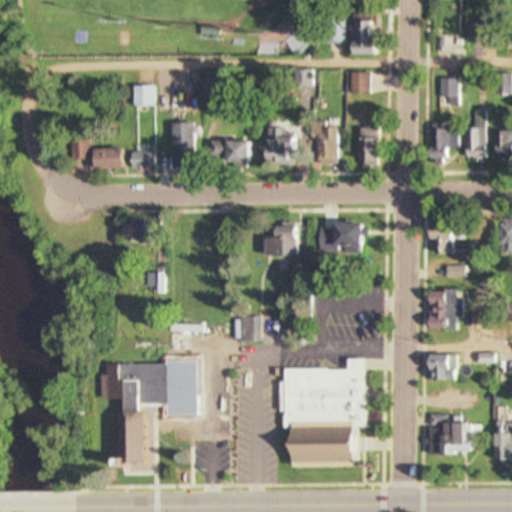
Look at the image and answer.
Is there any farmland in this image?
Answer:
No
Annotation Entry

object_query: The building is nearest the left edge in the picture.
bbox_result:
[72,140,94,162]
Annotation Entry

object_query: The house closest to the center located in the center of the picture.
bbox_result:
[264,222,297,256]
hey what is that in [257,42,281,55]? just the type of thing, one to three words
building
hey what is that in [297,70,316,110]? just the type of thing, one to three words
building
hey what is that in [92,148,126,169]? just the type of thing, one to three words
house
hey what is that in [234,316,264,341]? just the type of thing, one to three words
shed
